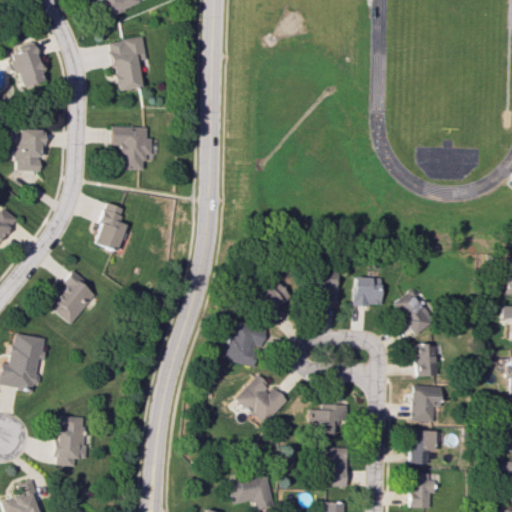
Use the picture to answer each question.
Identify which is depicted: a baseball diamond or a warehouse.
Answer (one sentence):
The image shows a baseball diamond.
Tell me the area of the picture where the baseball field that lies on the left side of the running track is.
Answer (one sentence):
Look in the top portion of the view to spot the baseball field that lies on the left side of the running track.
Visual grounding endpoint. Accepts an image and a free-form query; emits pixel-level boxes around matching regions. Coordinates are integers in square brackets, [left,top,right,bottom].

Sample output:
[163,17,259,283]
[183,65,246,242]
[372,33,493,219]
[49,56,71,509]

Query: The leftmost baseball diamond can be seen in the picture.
[262,4,309,48]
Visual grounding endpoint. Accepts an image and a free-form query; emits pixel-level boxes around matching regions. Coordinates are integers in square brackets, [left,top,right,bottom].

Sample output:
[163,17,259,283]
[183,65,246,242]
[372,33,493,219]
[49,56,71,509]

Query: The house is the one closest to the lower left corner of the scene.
[2,478,44,512]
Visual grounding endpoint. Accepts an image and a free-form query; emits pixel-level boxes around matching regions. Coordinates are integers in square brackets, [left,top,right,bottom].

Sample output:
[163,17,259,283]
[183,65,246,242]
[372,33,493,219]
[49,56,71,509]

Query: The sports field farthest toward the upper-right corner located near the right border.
[386,0,512,186]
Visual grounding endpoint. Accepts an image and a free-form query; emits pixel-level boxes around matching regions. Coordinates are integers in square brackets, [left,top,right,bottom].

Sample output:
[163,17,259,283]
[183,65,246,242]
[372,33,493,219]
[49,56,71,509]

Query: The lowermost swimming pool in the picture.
[298,492,314,508]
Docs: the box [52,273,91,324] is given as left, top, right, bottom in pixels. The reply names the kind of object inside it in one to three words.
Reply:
house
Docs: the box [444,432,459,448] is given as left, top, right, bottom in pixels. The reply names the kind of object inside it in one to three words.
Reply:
swimming pool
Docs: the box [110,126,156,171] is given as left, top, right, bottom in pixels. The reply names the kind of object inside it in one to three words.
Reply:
house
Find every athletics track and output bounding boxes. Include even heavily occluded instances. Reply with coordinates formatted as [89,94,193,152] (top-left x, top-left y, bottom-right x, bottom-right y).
[370,0,512,202]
